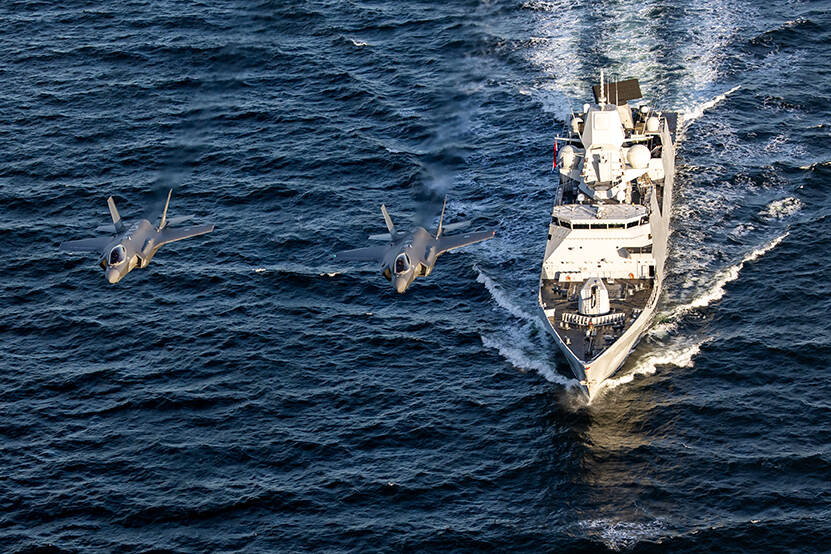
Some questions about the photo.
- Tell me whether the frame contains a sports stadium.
No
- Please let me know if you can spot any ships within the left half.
No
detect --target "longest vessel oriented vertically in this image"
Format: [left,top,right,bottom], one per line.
[540,73,689,398]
